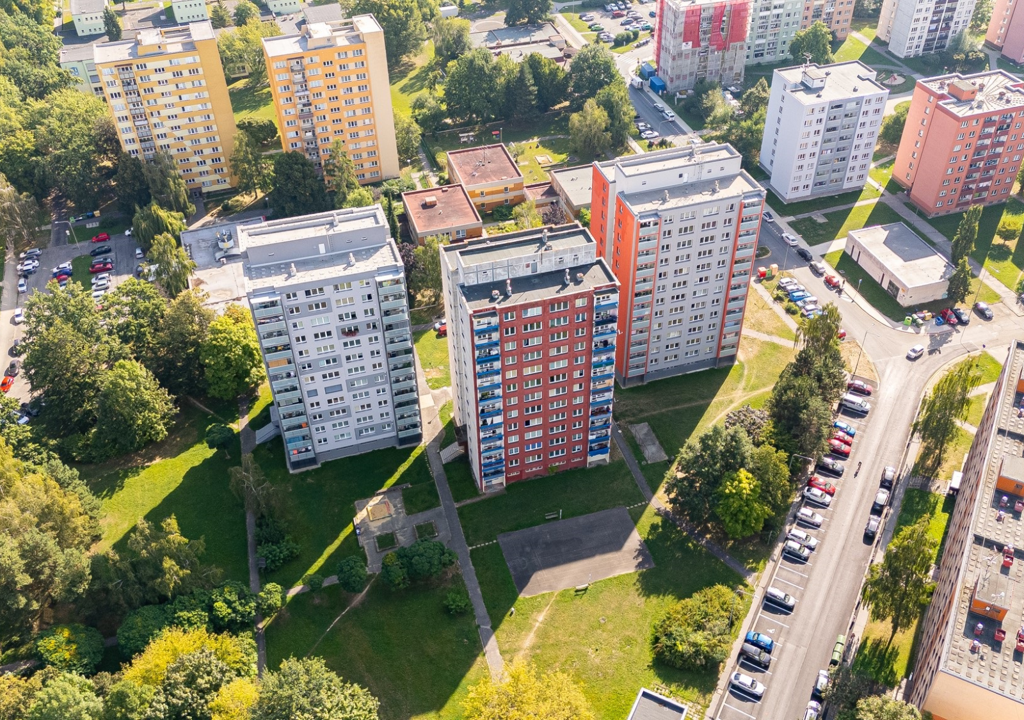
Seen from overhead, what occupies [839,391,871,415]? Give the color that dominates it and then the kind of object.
white vehicle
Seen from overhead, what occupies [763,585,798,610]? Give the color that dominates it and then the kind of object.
white car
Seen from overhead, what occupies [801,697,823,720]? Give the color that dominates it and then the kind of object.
white car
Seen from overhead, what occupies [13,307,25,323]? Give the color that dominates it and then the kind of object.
white vehicle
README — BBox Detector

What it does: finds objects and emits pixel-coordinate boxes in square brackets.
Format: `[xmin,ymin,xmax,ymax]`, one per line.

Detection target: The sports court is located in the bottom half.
[497,506,655,597]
